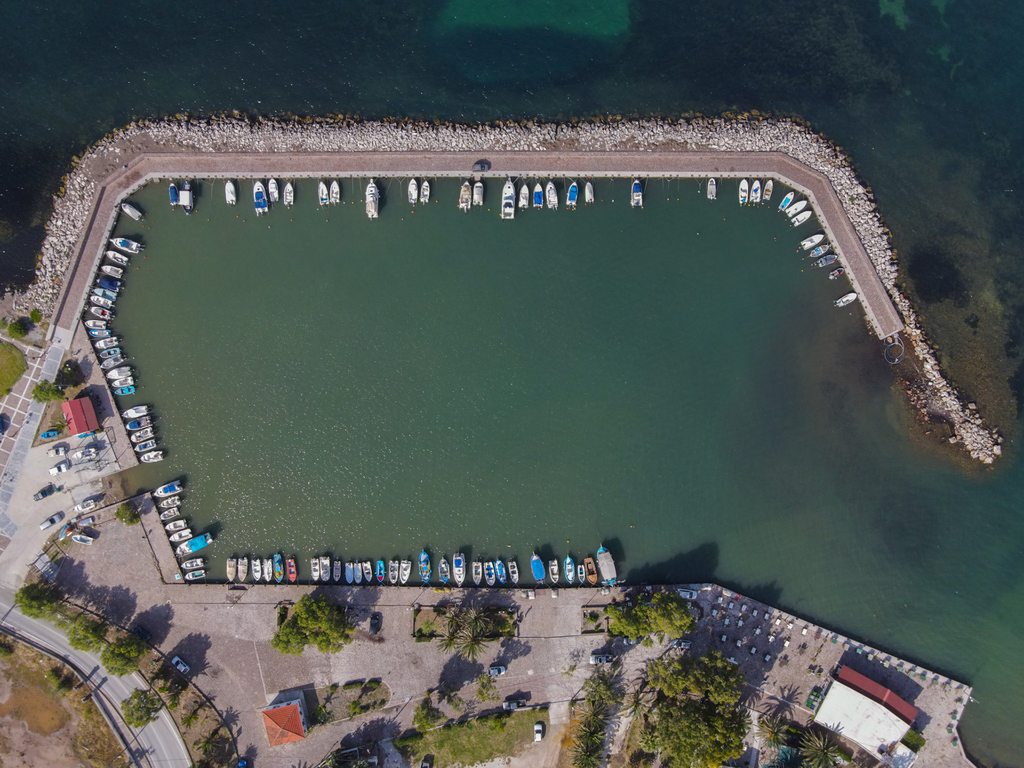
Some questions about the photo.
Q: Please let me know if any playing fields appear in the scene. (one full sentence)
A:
No, the scene contains no playing field.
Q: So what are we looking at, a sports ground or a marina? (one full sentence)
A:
This image shows a marina.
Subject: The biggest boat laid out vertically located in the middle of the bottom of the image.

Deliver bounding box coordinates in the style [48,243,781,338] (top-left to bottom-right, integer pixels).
[599,545,617,588]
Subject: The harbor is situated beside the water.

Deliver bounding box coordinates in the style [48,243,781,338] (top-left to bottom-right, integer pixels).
[47,153,980,768]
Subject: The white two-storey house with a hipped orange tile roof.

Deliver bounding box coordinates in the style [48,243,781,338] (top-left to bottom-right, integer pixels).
[262,698,308,746]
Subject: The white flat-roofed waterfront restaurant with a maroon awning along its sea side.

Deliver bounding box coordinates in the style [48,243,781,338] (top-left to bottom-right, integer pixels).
[809,663,919,768]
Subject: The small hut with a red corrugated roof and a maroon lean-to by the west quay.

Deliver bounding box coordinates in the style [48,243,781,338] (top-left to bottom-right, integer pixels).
[62,396,103,436]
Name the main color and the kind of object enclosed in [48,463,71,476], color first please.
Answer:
white vehicle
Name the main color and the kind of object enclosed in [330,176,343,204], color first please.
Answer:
white boat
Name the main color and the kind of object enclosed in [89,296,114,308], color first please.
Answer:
white boat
